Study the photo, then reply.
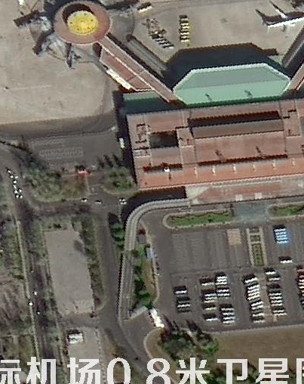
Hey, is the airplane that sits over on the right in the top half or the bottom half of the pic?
top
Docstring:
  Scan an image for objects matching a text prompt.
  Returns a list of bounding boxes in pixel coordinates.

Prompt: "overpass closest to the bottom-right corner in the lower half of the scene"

[118,196,195,323]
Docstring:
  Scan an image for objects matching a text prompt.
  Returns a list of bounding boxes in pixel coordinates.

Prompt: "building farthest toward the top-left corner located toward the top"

[19,0,139,73]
